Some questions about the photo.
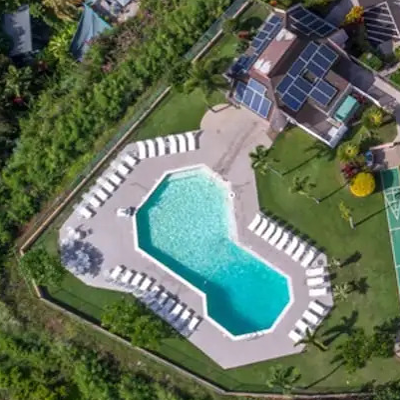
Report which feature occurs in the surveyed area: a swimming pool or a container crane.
swimming pool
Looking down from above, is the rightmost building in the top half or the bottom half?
top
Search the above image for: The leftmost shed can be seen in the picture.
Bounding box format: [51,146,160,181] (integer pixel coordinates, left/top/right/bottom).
[3,5,42,60]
